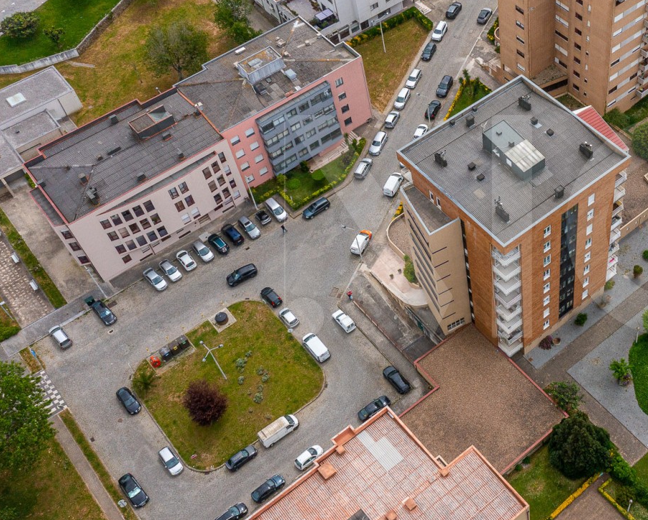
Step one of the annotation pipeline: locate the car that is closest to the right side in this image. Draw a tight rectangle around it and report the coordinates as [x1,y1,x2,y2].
[476,8,494,25]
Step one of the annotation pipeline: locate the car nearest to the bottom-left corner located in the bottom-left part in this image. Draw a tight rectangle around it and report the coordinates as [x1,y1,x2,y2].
[118,473,150,510]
